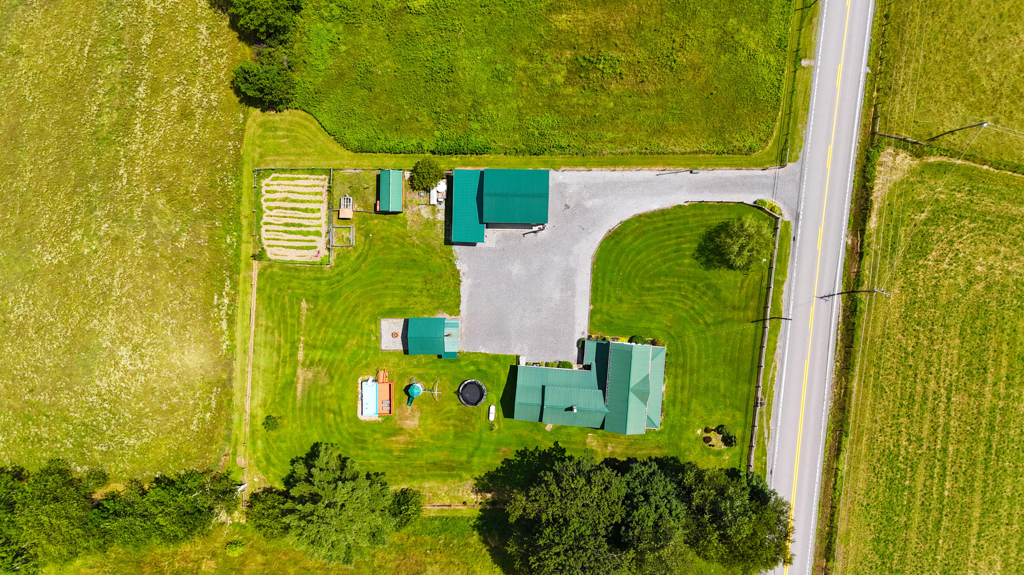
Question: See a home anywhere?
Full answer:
Yes, this view includes a home.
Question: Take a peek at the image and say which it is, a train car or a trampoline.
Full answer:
The one in the frame is a trampoline.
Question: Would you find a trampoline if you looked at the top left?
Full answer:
No, at the top left there is no trampoline.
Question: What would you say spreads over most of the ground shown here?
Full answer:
The bulk of the photo consists of grass.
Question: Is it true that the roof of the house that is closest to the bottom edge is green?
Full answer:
Yes, the roof of the house that is closest to the bottom edge appears green.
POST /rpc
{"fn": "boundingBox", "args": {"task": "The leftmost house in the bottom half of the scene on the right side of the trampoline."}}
[514,339,667,435]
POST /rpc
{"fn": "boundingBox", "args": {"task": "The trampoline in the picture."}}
[458,378,488,407]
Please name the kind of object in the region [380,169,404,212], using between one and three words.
shed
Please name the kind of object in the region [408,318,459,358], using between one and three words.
building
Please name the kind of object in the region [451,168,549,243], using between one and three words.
barn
